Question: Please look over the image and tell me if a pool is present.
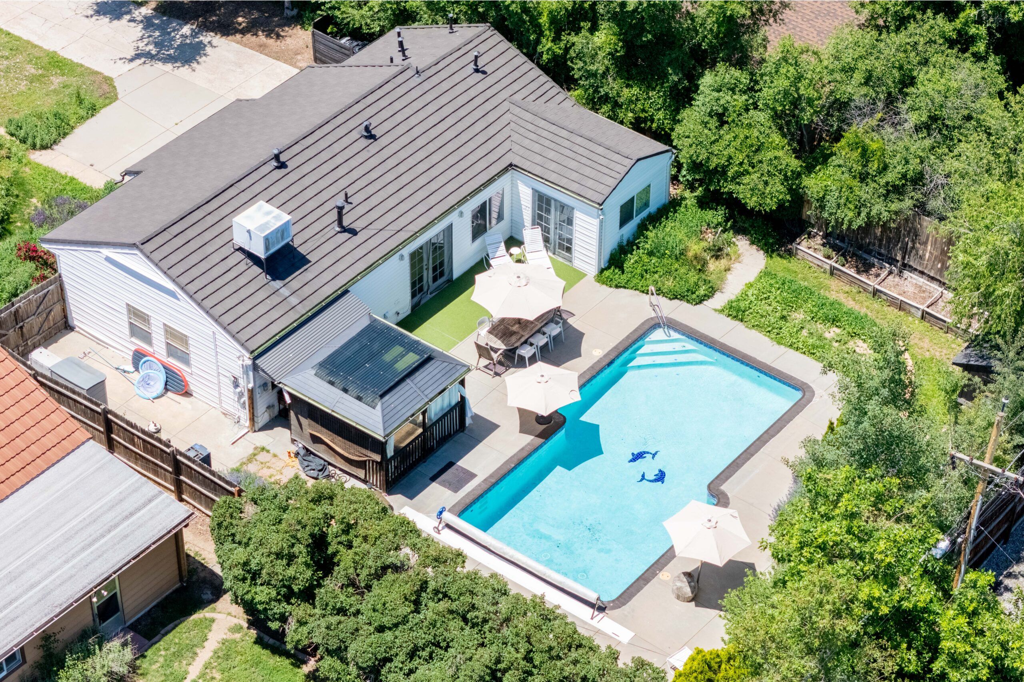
Yes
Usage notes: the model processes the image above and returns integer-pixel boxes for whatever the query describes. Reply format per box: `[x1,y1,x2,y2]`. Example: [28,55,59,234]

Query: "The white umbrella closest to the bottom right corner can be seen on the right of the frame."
[656,502,751,586]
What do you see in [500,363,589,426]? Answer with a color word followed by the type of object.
white umbrella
